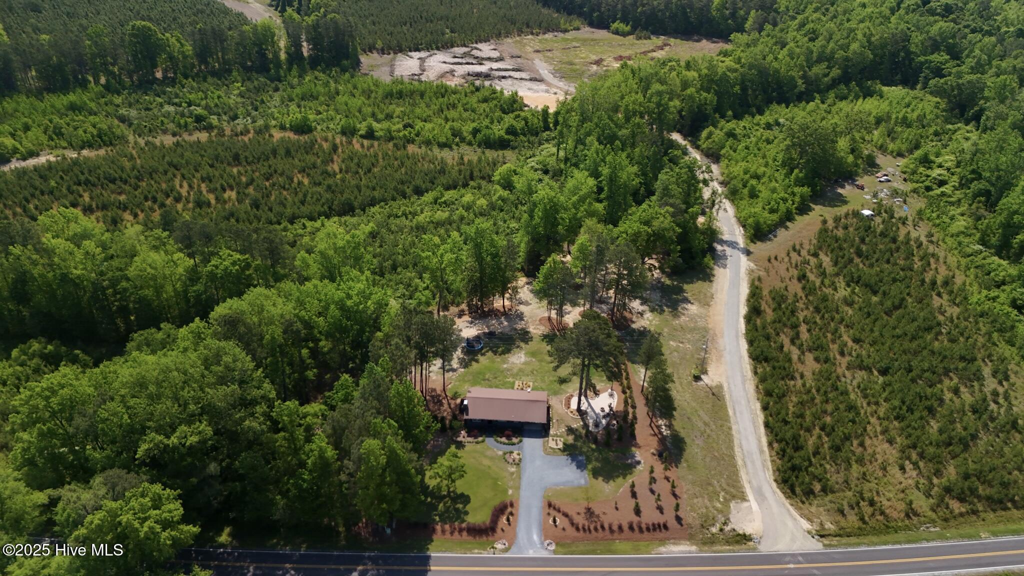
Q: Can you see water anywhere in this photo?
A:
No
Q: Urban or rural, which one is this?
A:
rural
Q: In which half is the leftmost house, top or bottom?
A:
bottom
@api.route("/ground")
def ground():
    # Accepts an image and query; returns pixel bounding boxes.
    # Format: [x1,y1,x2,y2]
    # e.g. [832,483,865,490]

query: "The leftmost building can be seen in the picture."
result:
[462,388,548,433]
